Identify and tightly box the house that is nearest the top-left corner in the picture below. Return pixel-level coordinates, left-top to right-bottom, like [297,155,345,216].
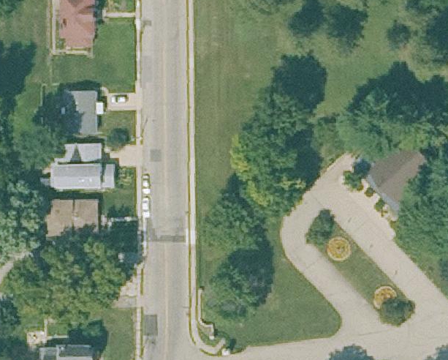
[51,0,96,51]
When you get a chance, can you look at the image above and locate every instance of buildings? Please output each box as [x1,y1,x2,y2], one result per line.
[51,0,96,51]
[50,143,115,190]
[62,90,104,135]
[366,152,430,215]
[39,345,93,360]
[46,199,98,237]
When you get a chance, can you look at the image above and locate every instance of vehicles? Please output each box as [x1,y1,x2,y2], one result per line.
[142,176,151,195]
[109,94,128,104]
[142,198,150,217]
